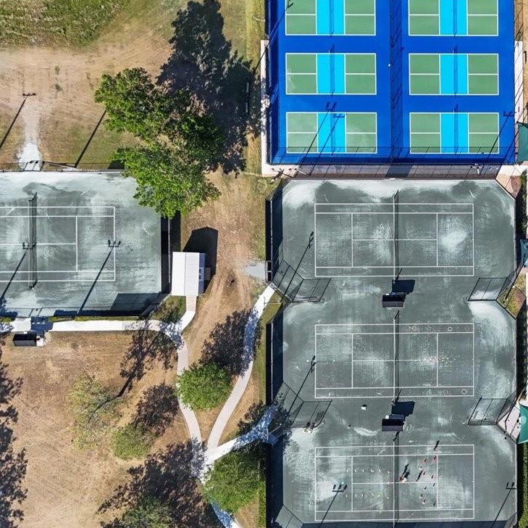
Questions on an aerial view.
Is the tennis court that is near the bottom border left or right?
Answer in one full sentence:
It is on the right.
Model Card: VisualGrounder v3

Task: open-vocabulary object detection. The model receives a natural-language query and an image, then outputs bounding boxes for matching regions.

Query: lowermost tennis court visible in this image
[315,440,475,528]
